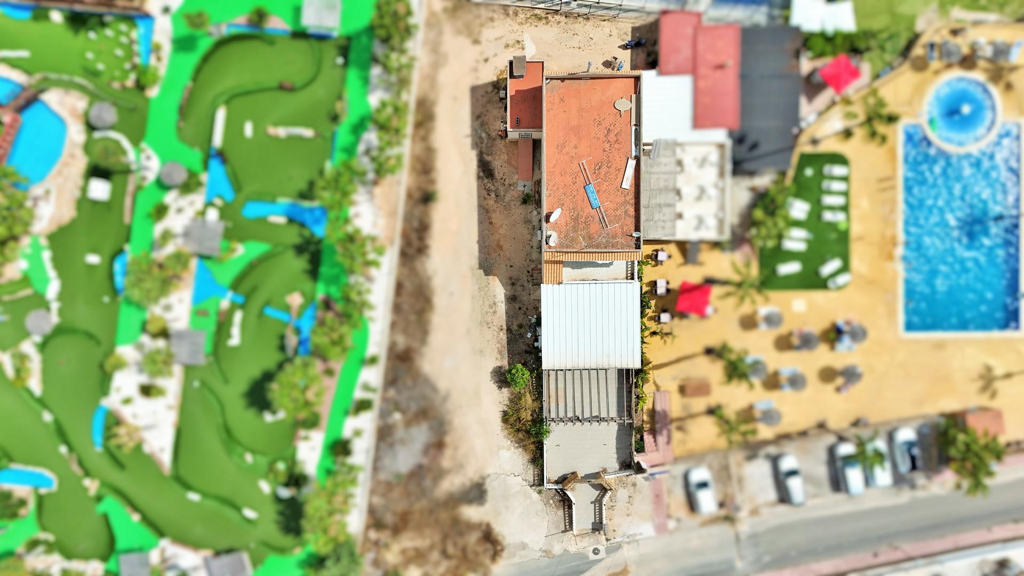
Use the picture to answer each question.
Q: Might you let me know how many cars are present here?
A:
five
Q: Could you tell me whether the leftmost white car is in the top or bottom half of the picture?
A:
bottom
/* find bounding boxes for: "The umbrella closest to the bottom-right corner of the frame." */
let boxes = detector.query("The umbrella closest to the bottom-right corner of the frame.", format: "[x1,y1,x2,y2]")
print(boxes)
[838,362,862,387]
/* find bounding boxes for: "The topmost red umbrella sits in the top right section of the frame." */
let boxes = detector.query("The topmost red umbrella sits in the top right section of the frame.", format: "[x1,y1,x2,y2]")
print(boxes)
[818,53,861,95]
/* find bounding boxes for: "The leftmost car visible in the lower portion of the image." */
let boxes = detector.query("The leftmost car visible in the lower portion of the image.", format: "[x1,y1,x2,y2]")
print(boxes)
[686,464,716,513]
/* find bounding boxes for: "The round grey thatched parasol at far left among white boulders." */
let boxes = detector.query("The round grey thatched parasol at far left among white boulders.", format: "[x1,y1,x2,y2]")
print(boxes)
[29,308,56,336]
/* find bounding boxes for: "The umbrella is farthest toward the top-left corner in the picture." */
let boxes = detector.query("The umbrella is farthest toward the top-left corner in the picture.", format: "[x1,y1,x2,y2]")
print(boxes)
[90,101,120,130]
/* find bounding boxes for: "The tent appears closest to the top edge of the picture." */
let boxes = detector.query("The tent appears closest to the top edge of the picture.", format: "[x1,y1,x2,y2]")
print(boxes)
[790,0,857,39]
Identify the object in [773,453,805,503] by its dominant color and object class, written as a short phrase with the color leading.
white car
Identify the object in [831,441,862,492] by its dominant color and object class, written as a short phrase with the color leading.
white car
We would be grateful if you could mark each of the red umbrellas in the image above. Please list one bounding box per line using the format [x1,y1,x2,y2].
[676,282,712,317]
[818,53,861,95]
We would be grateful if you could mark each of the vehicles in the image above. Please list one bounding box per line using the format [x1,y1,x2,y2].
[773,453,805,503]
[625,35,649,47]
[859,437,890,486]
[686,464,716,513]
[889,424,920,473]
[831,441,862,492]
